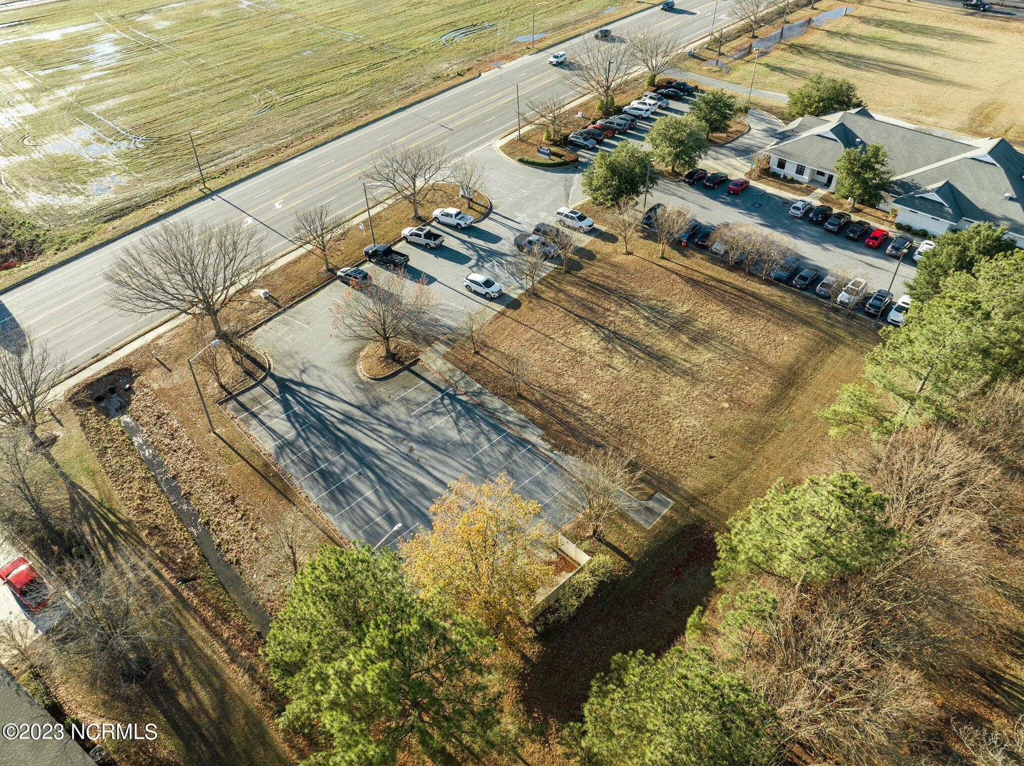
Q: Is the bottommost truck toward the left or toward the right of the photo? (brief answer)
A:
left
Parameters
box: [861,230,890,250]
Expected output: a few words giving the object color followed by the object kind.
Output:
red car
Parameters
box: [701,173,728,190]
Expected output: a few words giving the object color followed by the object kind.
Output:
black car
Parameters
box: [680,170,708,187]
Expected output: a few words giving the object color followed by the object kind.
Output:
black car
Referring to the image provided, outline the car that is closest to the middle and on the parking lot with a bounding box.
[463,273,504,298]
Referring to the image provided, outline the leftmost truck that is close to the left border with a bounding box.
[0,557,60,617]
